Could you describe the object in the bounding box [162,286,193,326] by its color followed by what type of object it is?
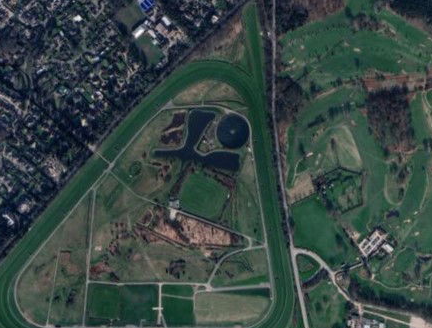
green sports field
